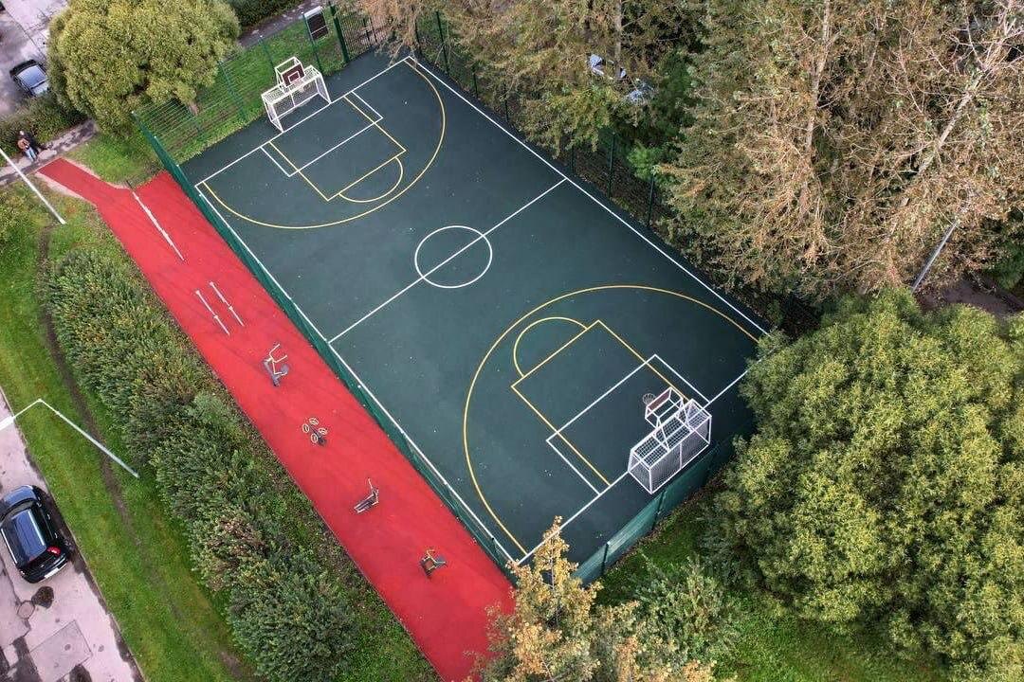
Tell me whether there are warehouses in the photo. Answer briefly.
No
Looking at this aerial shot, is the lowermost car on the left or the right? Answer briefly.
left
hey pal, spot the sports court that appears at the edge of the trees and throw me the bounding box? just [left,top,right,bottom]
[168,35,794,624]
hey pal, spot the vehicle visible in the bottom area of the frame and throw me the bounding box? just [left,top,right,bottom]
[0,488,70,587]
